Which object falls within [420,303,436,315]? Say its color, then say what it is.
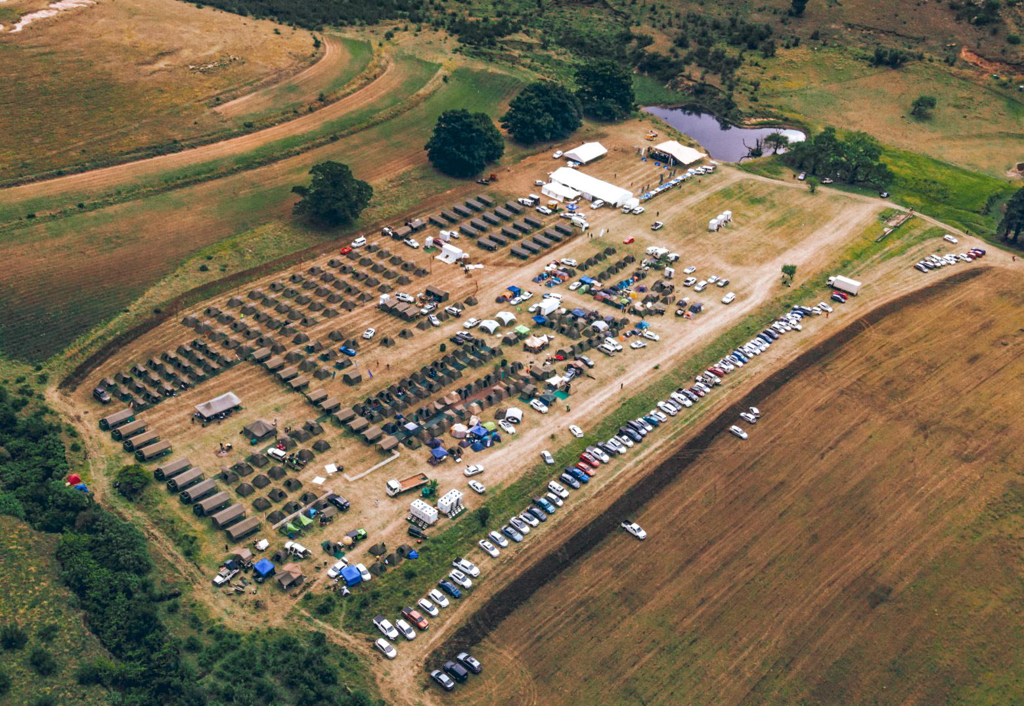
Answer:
white vehicle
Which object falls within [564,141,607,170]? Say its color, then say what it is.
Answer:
white tent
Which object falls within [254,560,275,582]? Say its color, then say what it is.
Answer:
blue gazebo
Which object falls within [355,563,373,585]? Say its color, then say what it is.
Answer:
white car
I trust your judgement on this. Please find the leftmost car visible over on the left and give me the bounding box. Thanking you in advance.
[94,387,110,403]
